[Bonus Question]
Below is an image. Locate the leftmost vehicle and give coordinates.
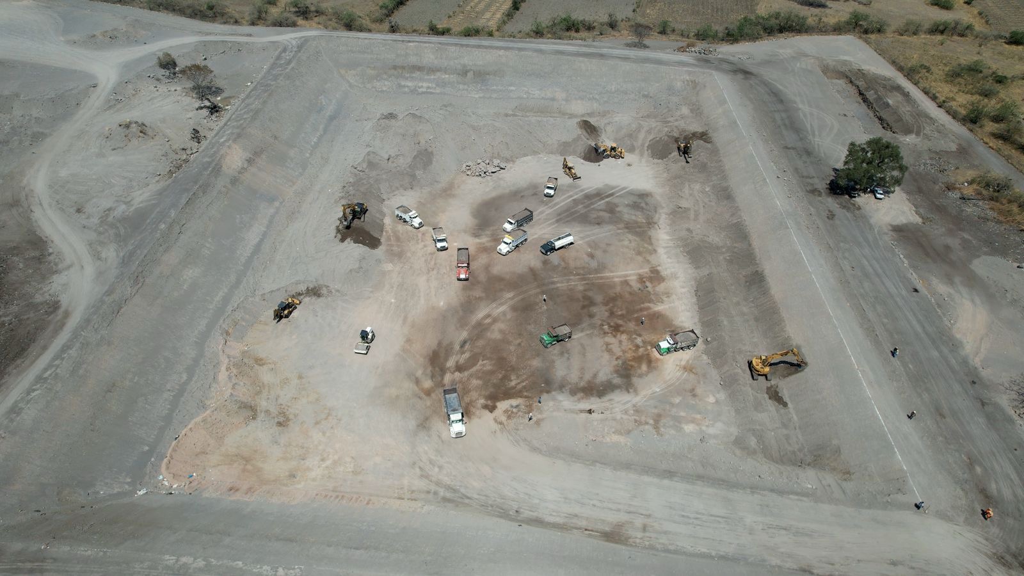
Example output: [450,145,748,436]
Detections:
[271,295,306,319]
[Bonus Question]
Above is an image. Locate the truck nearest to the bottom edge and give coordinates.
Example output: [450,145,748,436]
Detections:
[443,385,465,438]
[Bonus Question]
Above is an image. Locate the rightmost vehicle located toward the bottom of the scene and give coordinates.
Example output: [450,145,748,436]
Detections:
[751,348,807,382]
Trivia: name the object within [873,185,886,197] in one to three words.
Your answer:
vehicle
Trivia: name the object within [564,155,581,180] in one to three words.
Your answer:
work vehicle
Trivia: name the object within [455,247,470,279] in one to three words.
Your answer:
vehicle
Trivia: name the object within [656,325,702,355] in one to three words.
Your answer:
truck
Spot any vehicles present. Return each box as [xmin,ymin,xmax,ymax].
[656,325,702,355]
[443,385,465,438]
[540,230,575,255]
[544,175,559,196]
[751,348,807,382]
[677,139,691,158]
[393,201,423,227]
[336,204,370,225]
[873,185,886,197]
[538,319,574,347]
[502,206,535,232]
[431,225,448,250]
[497,226,528,254]
[598,143,627,158]
[455,247,470,279]
[352,332,376,355]
[271,295,306,319]
[564,155,581,180]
